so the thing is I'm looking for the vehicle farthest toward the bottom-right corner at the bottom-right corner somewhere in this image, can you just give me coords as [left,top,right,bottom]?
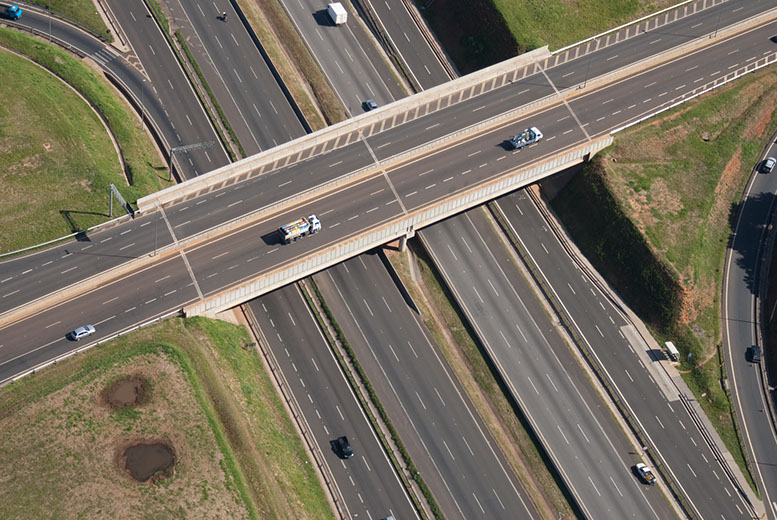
[636,465,659,489]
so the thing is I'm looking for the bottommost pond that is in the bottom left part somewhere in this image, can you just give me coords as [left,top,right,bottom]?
[121,443,179,483]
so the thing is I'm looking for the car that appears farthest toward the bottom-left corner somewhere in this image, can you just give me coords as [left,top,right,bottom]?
[68,325,95,341]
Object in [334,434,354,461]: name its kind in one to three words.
vehicle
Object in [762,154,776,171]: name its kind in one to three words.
car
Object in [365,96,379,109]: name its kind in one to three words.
vehicle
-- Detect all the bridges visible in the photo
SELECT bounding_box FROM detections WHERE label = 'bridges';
[137,43,618,327]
